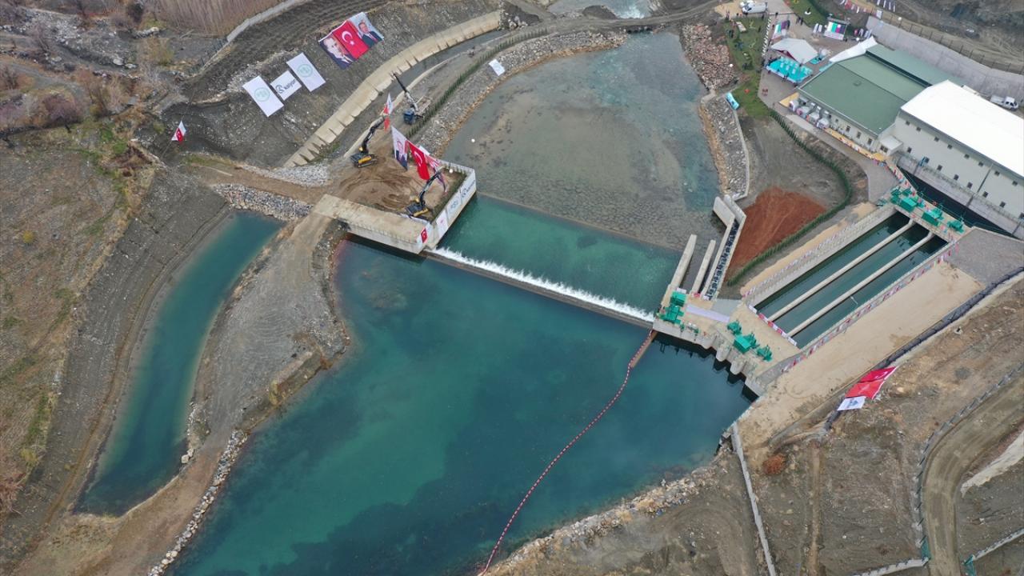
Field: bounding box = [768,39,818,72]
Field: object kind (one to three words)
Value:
tent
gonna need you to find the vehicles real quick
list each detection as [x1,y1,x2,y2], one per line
[394,74,437,119]
[356,117,394,168]
[990,93,1023,111]
[740,0,771,12]
[405,164,451,219]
